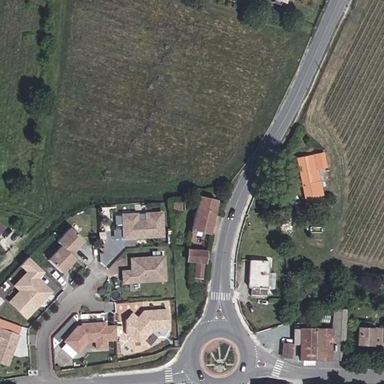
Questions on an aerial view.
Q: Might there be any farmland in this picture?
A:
Yes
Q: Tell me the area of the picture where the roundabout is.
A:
bottom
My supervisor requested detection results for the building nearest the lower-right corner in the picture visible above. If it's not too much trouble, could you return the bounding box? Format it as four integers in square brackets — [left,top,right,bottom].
[359,328,384,347]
